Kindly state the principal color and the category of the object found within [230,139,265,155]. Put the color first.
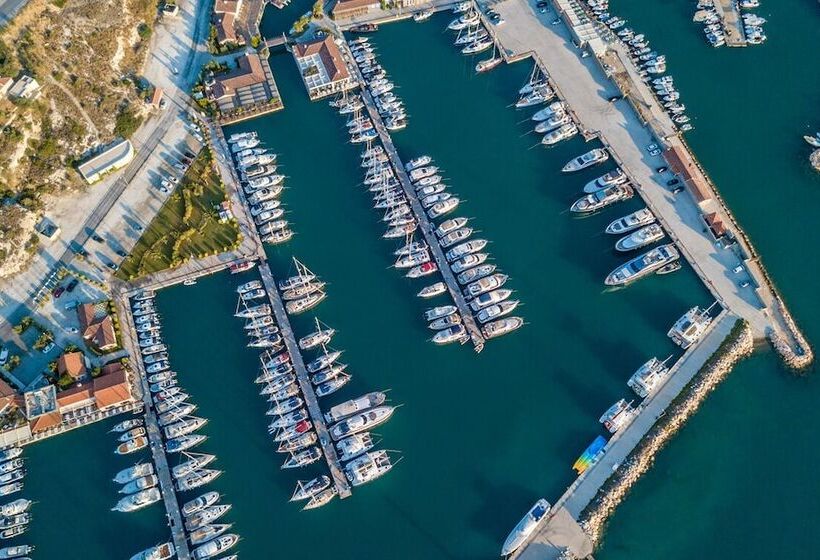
white boat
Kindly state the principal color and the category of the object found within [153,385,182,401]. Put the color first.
white boat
